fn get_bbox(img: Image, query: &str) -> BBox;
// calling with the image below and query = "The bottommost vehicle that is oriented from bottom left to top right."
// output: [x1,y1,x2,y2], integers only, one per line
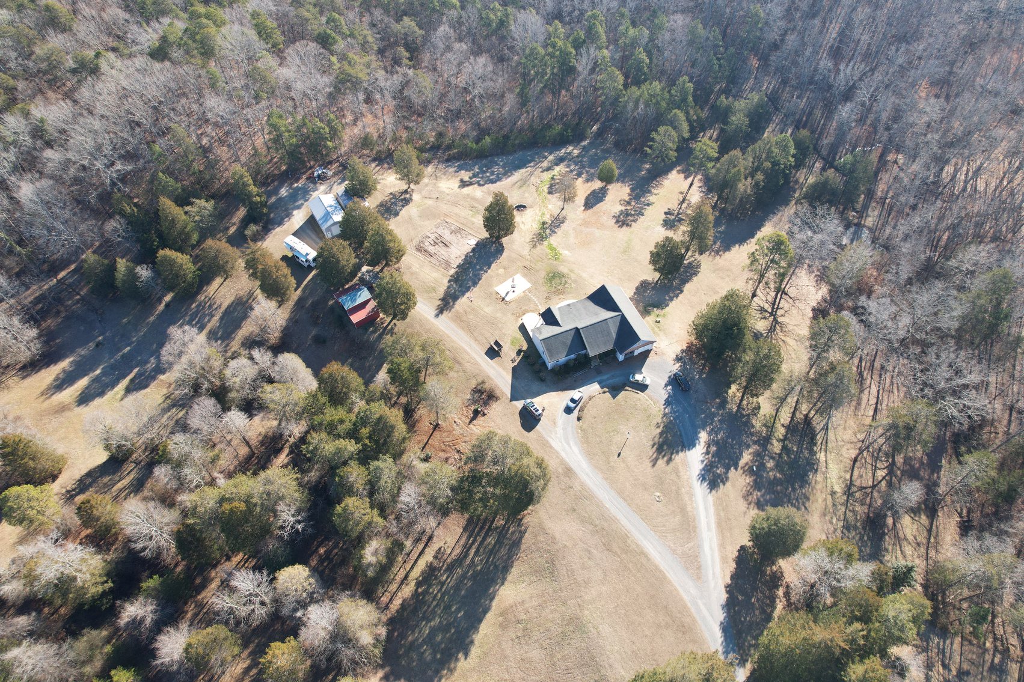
[564,389,585,412]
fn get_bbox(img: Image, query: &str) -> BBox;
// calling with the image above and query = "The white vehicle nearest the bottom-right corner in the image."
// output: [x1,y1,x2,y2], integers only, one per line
[627,374,653,388]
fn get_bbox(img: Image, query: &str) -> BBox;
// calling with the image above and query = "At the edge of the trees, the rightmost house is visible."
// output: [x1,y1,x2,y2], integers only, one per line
[531,280,657,369]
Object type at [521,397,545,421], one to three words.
car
